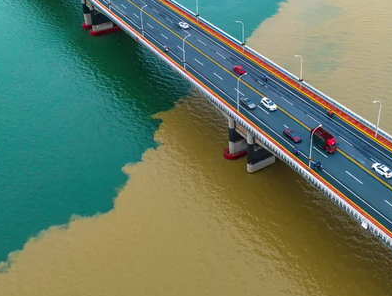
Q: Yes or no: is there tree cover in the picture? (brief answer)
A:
No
